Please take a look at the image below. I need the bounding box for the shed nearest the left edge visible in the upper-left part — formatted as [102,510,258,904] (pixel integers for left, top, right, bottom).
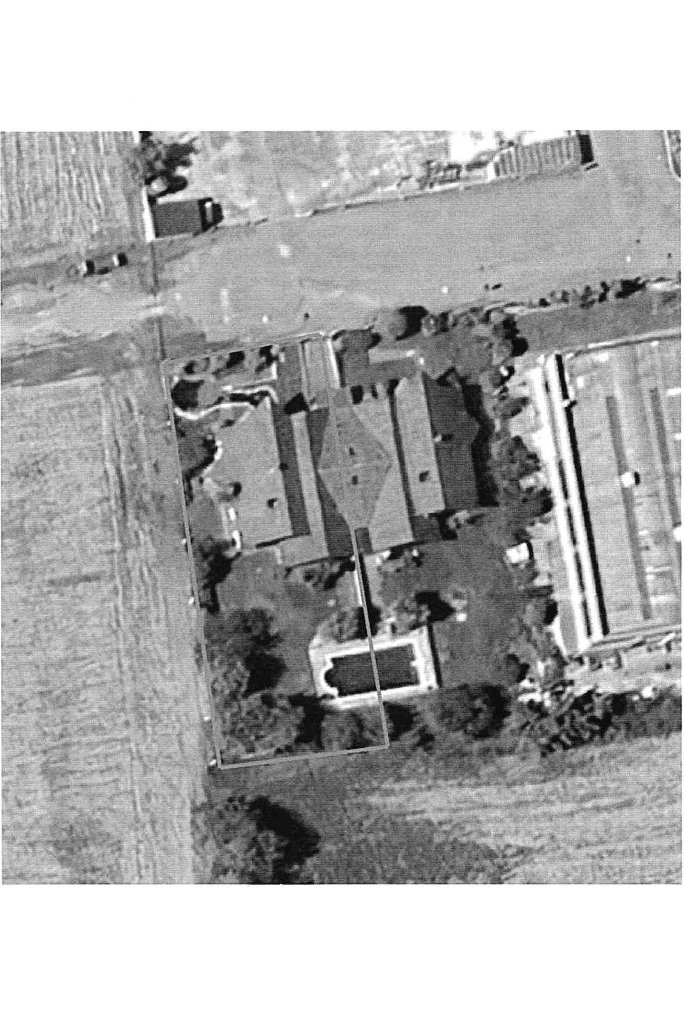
[141,186,204,243]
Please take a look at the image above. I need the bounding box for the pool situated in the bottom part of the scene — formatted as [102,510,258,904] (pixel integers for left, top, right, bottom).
[309,625,438,706]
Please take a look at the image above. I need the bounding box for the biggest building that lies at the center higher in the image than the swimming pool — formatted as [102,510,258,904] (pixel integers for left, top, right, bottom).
[218,372,482,567]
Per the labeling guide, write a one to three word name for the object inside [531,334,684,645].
warehouse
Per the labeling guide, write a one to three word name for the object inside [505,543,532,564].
shed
